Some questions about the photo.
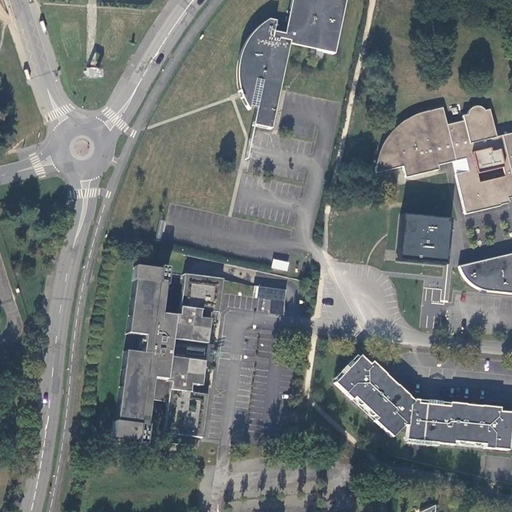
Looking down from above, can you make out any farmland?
No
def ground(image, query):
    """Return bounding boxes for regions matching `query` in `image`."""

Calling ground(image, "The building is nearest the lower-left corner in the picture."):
[114,264,224,442]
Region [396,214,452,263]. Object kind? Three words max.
building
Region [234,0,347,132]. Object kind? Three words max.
building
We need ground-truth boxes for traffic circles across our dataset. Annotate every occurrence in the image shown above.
[18,104,126,189]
